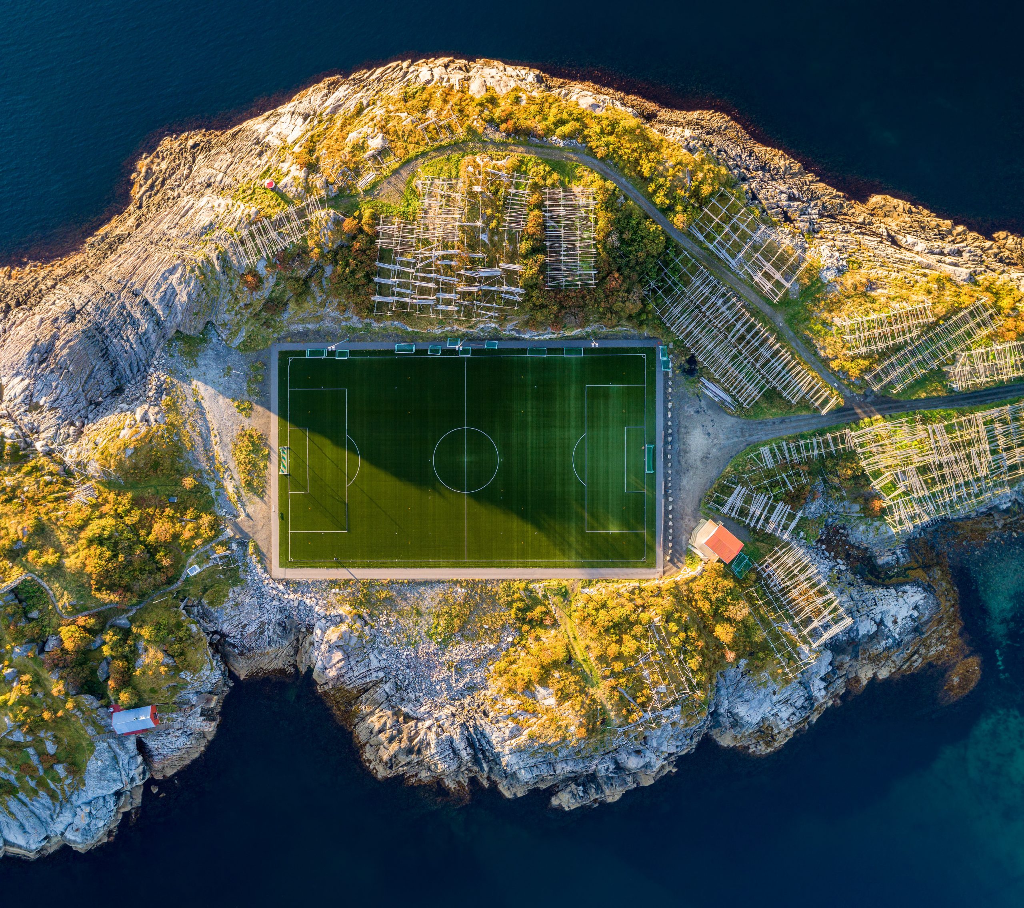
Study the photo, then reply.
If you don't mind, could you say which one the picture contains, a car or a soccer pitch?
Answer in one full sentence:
I can see a soccer pitch in this picture.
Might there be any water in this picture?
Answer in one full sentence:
Yes, there is water in the image.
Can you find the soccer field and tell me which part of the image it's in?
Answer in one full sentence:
The soccer field is located in the center region of the scene.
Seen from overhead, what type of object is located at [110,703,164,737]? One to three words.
building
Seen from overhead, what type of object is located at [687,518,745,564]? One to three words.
building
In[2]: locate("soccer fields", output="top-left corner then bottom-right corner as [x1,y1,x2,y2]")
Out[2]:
[278,347,656,568]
